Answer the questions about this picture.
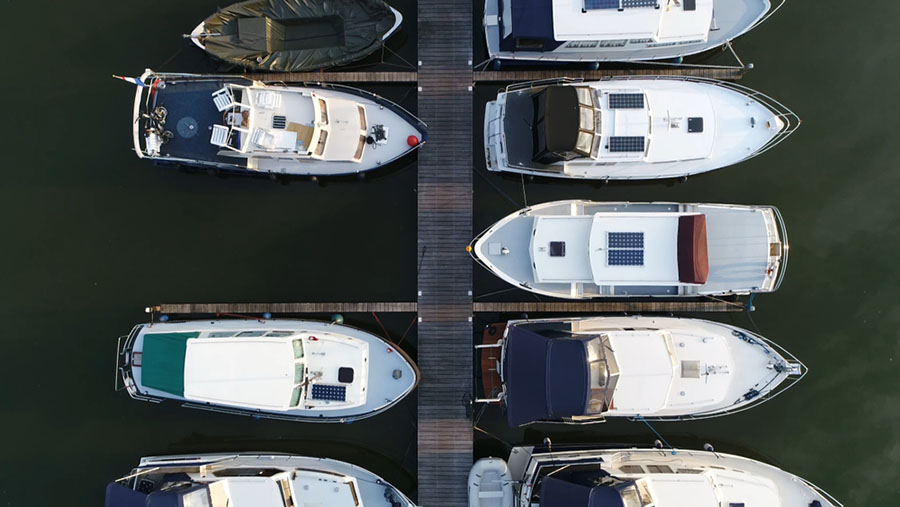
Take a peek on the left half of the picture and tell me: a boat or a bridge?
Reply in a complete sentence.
Looking on the left half of the picture, you will find a boat.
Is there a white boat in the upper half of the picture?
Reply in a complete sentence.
Yes, looking in the upper half of the picture, one can make out a white boat.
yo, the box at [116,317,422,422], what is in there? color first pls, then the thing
white boat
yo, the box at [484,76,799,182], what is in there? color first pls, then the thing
white boat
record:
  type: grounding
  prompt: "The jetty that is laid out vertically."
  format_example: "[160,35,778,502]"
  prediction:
[415,0,476,507]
